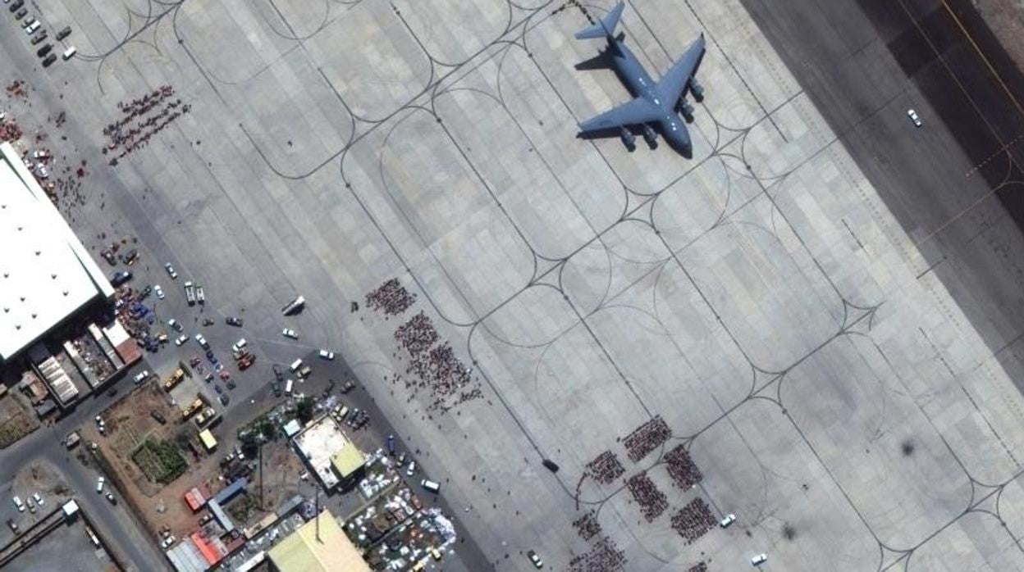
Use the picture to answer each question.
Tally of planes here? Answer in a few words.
one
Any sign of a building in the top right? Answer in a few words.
No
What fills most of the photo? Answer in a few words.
paved ground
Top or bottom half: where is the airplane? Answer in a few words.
top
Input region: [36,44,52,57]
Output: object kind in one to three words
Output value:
vehicle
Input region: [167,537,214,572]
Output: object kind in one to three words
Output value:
shed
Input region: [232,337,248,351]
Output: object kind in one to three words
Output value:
vehicle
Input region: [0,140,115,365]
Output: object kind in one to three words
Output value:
hangar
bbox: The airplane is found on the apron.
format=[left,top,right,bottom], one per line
[571,2,704,157]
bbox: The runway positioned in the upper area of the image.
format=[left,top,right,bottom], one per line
[856,0,1024,236]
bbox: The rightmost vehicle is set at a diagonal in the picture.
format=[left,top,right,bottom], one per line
[907,110,922,126]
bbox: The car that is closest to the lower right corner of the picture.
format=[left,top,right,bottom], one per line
[750,554,767,566]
